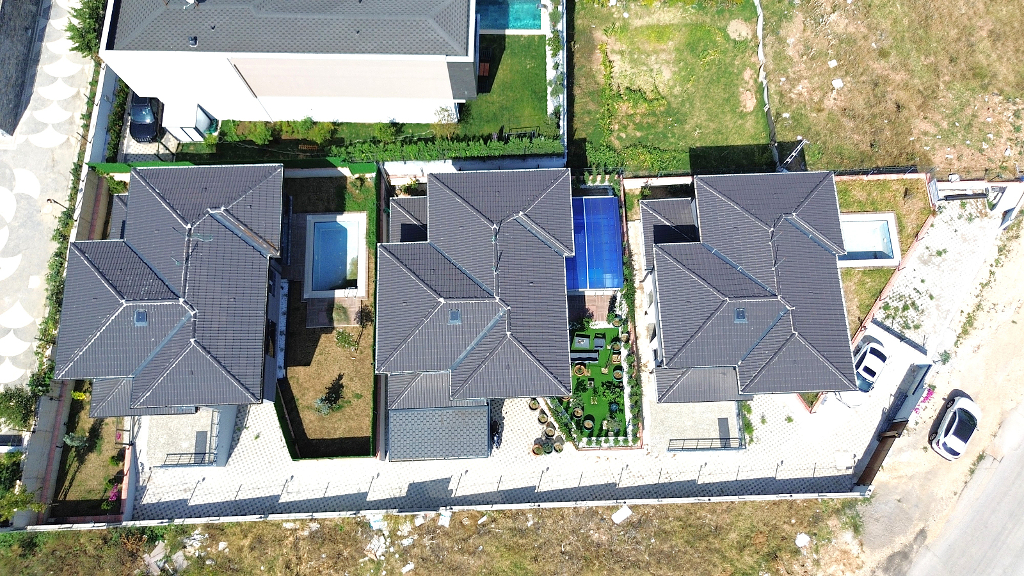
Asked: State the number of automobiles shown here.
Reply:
3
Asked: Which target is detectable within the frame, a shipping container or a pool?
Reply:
pool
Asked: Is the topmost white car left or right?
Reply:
right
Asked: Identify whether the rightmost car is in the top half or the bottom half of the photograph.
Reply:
bottom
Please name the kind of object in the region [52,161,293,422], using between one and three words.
house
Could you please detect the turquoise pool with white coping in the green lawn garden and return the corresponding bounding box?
[485,0,548,34]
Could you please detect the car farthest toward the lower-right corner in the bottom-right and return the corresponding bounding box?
[930,395,982,465]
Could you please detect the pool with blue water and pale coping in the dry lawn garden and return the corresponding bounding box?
[306,213,366,297]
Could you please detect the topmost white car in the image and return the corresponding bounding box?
[841,341,886,410]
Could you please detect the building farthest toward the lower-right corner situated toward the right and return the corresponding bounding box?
[638,169,858,409]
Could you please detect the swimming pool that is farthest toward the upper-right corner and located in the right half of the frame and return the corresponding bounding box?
[838,214,903,265]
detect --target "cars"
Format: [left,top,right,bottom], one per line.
[841,341,886,410]
[930,395,982,465]
[121,86,163,146]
